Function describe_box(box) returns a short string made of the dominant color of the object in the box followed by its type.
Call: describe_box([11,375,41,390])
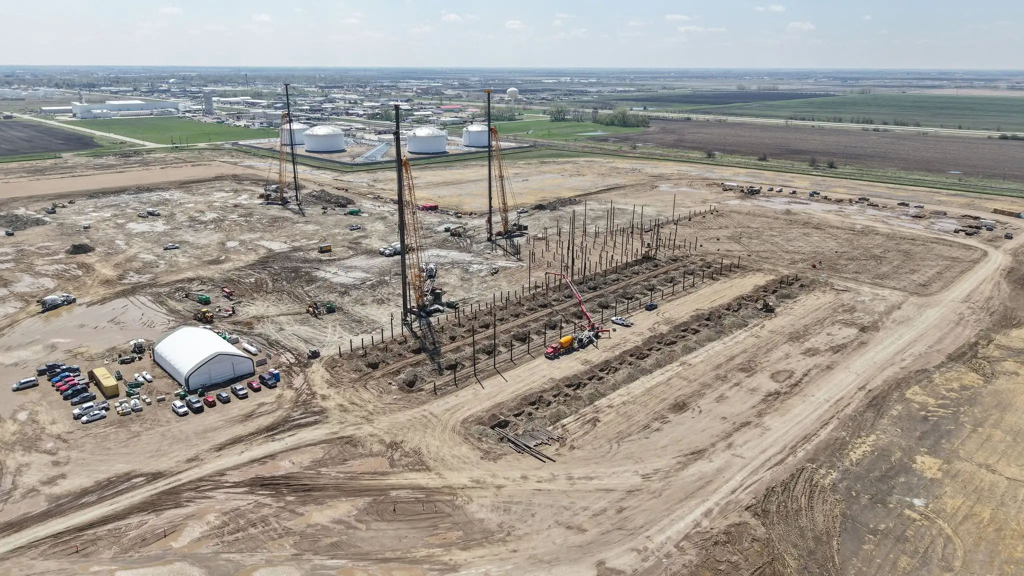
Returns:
gray car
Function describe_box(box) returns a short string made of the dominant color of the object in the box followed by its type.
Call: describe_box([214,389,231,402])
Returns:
gray vehicle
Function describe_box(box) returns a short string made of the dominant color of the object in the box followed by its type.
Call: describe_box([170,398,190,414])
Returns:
white car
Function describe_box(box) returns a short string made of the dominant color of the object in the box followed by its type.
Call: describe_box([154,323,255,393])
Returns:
white tent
